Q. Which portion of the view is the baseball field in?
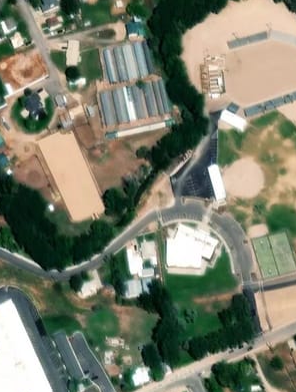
right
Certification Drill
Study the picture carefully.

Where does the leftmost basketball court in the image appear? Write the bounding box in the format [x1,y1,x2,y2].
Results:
[252,235,279,278]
